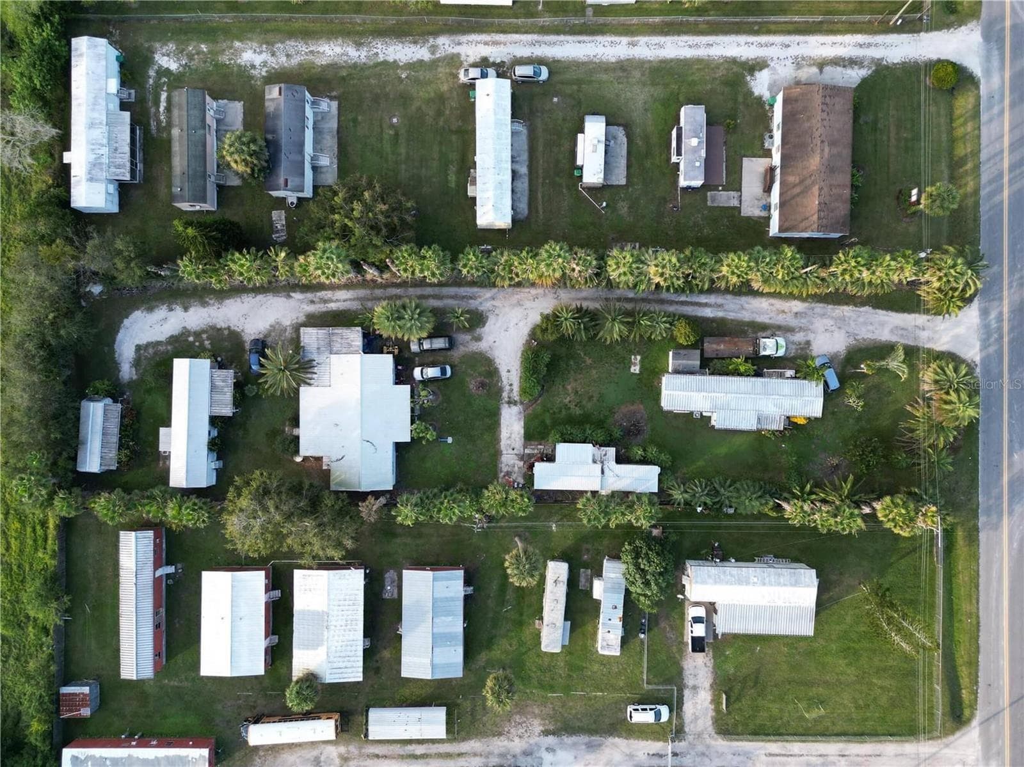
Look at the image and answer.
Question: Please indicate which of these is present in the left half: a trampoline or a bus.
bus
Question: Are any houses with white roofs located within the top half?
Yes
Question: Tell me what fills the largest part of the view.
grass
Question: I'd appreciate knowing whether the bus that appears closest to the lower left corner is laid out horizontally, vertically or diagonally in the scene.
horizontally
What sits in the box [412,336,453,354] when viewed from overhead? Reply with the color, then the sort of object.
gray car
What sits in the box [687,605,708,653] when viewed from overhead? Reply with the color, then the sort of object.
white vehicle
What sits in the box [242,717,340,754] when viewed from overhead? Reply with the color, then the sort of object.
white bus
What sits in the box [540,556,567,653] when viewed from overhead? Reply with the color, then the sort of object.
white trailer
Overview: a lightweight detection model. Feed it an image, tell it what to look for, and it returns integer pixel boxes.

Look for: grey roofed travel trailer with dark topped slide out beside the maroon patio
[670,107,704,197]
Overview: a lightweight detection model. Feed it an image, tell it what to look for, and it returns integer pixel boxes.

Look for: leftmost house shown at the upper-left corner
[63,35,151,211]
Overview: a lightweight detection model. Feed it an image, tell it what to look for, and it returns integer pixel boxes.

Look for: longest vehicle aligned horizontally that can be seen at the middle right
[706,335,785,358]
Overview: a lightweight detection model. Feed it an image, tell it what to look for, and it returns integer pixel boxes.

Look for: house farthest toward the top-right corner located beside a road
[772,85,854,237]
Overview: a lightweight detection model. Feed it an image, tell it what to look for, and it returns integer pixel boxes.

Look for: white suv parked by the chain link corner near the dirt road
[627,704,668,726]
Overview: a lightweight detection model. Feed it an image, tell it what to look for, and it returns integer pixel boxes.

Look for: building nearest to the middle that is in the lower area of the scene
[534,443,602,491]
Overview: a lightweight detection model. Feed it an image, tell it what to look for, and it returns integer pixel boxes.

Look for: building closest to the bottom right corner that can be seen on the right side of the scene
[685,561,822,637]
